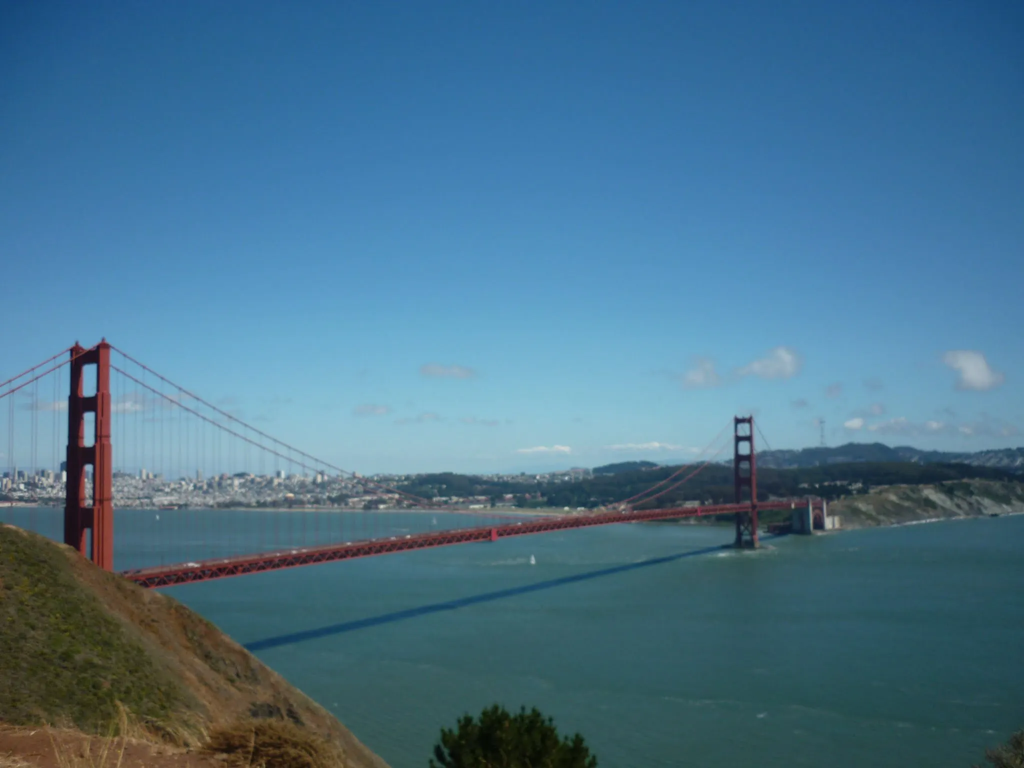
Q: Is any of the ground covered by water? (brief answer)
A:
Yes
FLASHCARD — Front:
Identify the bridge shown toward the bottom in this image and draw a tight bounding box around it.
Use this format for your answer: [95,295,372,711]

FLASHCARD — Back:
[0,333,833,590]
